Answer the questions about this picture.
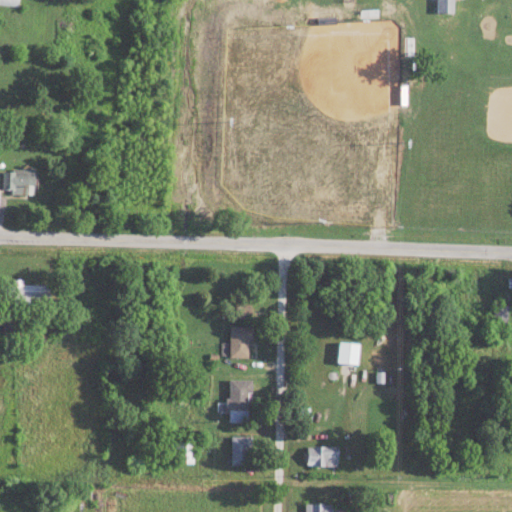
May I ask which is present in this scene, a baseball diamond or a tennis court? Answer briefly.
baseball diamond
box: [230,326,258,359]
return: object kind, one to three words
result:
house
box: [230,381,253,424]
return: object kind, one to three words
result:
house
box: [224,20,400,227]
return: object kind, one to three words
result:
baseball field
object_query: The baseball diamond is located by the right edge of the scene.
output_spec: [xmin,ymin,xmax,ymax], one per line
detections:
[488,86,512,143]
